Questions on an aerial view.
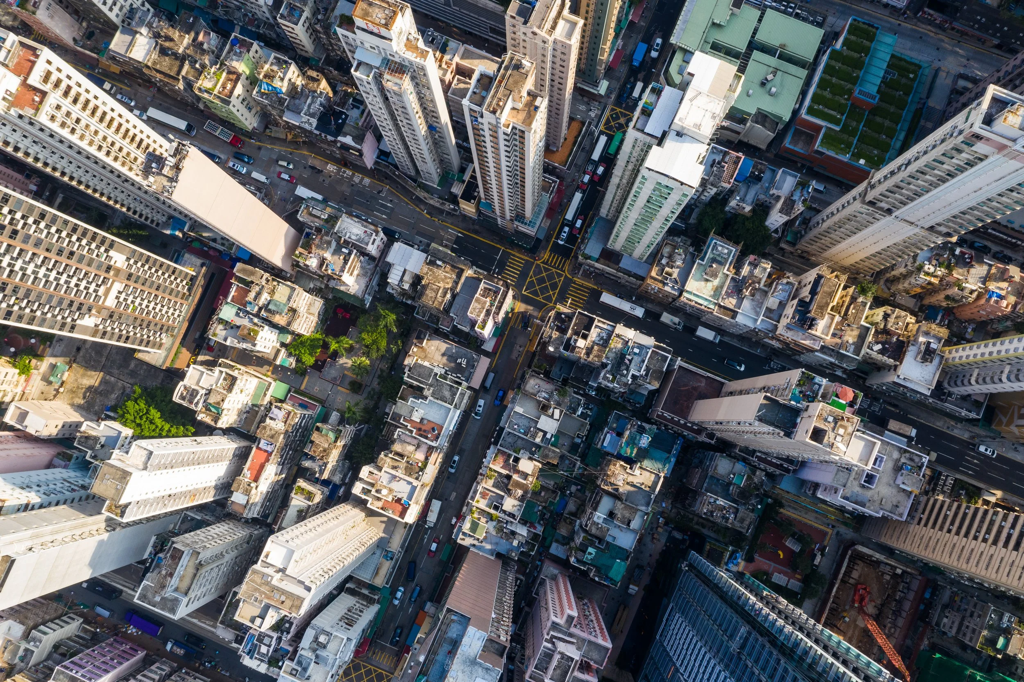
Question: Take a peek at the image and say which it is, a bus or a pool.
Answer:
bus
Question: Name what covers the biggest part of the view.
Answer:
buildings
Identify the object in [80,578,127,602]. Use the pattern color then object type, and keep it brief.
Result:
black bus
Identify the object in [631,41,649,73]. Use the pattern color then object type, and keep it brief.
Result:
blue vehicle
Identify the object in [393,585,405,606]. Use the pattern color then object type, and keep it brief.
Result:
blue vehicle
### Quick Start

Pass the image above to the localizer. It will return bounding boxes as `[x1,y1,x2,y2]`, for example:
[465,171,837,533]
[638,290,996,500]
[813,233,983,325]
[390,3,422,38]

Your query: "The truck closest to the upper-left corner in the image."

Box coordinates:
[87,71,119,94]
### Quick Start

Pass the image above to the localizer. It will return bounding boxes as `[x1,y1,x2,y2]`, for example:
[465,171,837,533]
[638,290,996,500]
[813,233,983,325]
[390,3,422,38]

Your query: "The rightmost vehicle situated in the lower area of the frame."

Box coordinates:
[972,445,995,459]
